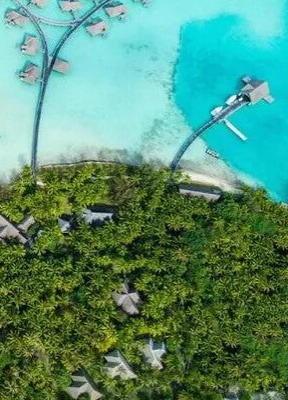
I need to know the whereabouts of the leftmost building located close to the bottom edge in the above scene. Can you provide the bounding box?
[67,372,97,400]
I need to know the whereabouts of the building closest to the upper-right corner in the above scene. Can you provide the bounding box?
[238,75,269,103]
